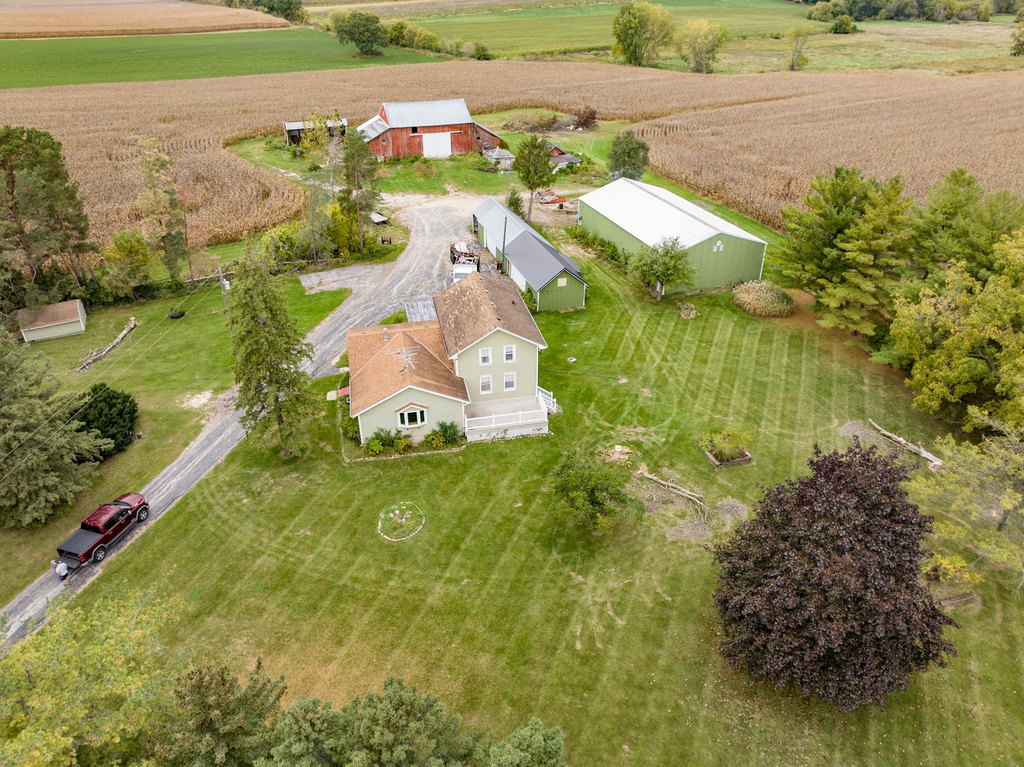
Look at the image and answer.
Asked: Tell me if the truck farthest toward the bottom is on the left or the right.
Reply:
left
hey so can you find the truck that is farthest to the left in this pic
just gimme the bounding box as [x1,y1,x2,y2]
[50,494,153,576]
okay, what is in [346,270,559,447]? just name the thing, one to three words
house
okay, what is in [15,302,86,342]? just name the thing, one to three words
shed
